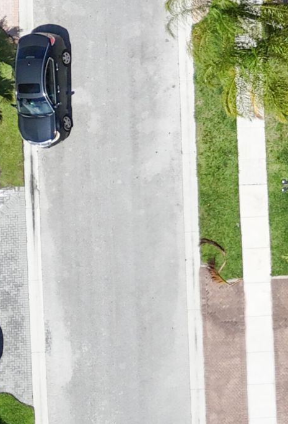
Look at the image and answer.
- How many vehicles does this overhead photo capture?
one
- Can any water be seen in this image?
No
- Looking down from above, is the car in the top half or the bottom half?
top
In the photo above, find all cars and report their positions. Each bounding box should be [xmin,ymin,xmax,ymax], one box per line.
[12,33,74,148]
